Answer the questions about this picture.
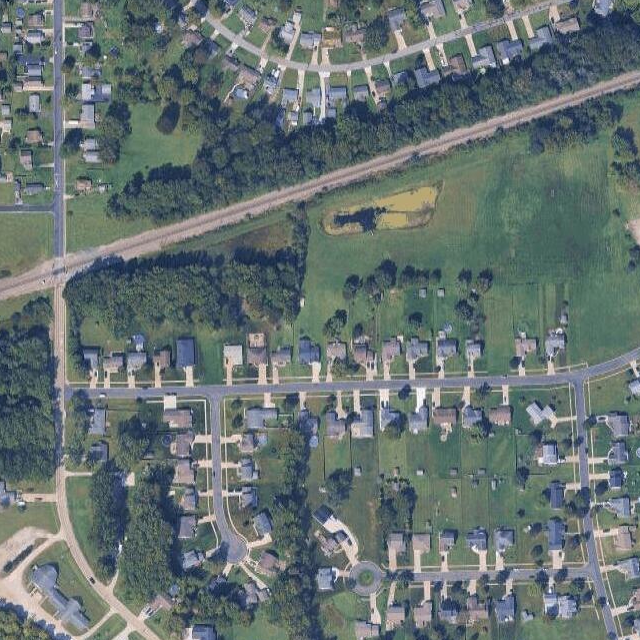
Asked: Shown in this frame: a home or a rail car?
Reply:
home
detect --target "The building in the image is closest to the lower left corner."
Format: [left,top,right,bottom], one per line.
[32,564,94,635]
